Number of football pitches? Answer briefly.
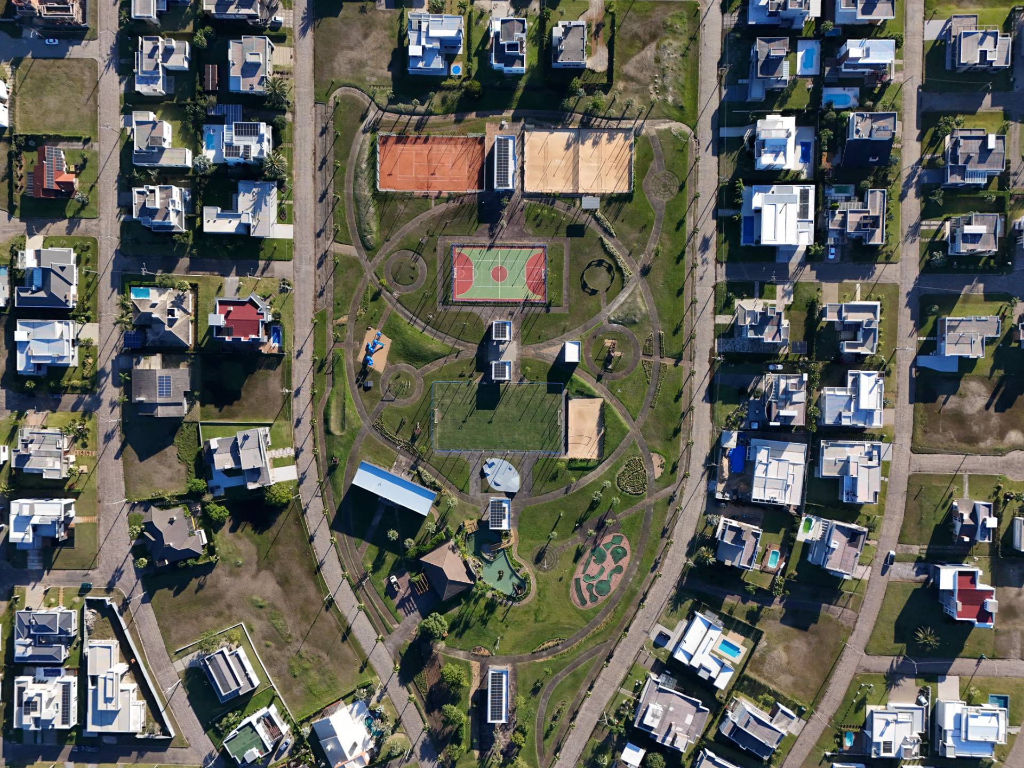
1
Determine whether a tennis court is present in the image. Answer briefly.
Yes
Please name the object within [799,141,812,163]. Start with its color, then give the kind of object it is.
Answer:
blue swimming pool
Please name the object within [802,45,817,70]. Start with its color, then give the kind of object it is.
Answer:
blue swimming pool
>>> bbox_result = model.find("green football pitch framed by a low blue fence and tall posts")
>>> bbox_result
[430,382,564,453]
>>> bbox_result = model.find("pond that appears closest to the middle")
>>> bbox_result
[464,520,526,597]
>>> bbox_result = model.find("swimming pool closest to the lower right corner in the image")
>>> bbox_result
[989,694,1009,707]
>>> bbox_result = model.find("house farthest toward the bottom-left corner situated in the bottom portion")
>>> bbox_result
[14,674,79,729]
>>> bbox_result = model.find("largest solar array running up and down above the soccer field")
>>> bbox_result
[497,138,509,188]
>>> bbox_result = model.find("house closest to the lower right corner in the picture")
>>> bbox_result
[936,696,1007,763]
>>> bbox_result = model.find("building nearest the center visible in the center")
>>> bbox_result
[492,361,511,380]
